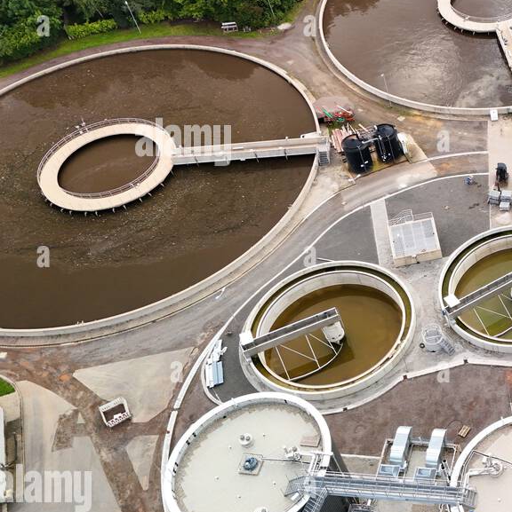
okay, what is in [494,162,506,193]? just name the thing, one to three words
vehicle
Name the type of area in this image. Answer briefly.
industrial area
